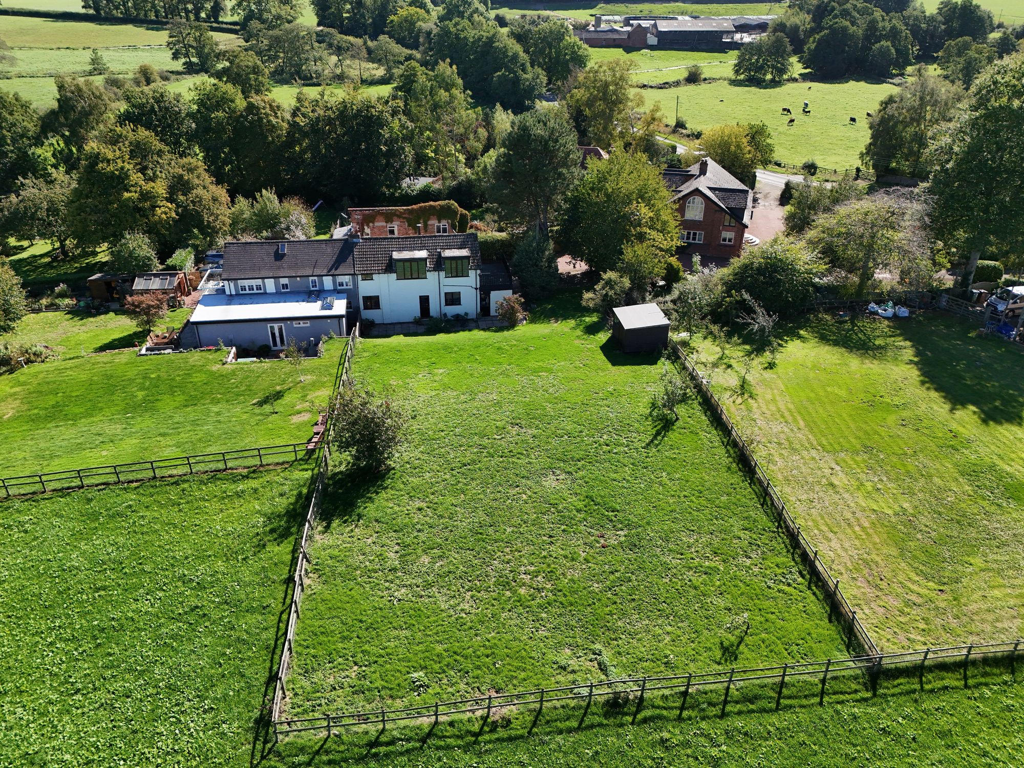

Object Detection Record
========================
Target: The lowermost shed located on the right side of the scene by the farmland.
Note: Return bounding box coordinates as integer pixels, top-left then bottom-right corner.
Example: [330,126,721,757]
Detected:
[612,302,673,352]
